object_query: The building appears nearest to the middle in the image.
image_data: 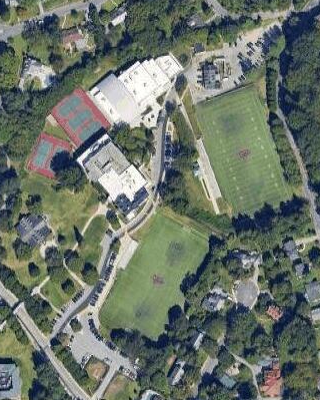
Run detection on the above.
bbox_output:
[80,141,149,220]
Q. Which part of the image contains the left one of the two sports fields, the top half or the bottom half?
bottom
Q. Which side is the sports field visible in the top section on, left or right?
right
